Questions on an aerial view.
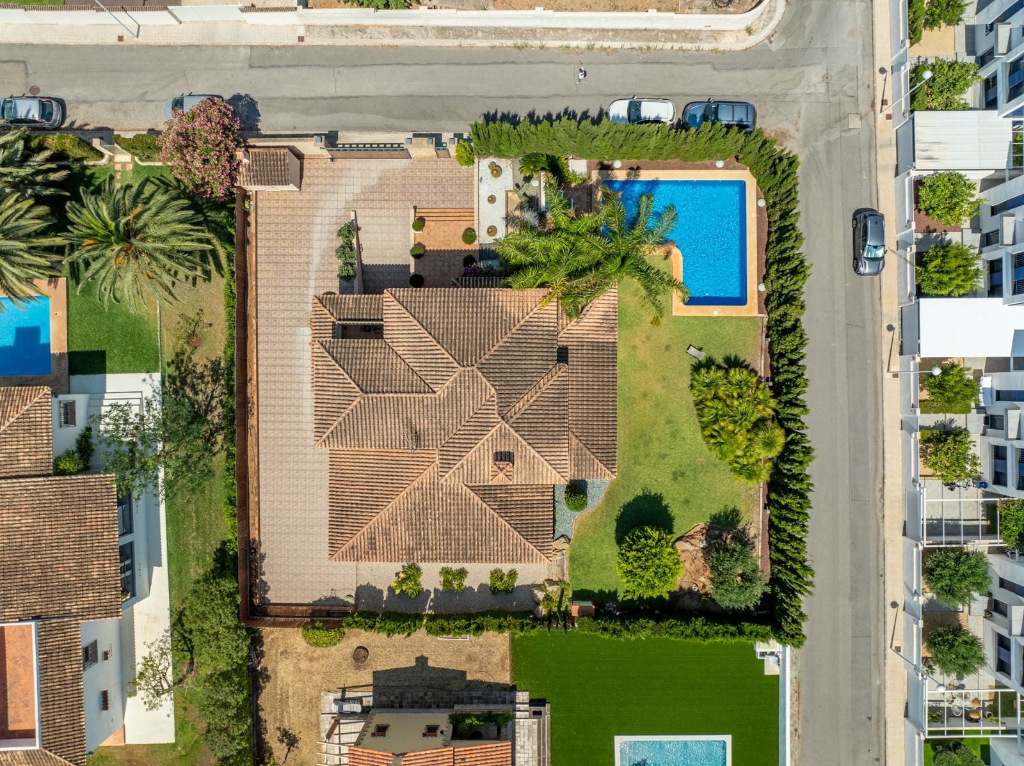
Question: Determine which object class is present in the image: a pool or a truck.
pool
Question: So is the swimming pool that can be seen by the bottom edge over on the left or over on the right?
right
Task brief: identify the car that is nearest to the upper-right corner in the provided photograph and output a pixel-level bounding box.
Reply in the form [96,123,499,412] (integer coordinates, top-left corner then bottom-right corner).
[850,210,888,277]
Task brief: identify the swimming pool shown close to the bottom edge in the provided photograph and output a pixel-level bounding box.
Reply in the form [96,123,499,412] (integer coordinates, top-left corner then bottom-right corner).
[623,743,725,766]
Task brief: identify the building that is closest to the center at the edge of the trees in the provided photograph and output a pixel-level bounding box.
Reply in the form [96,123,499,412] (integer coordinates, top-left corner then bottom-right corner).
[310,275,619,566]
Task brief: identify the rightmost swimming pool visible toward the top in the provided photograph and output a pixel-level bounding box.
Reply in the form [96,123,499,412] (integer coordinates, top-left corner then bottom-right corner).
[603,180,747,305]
